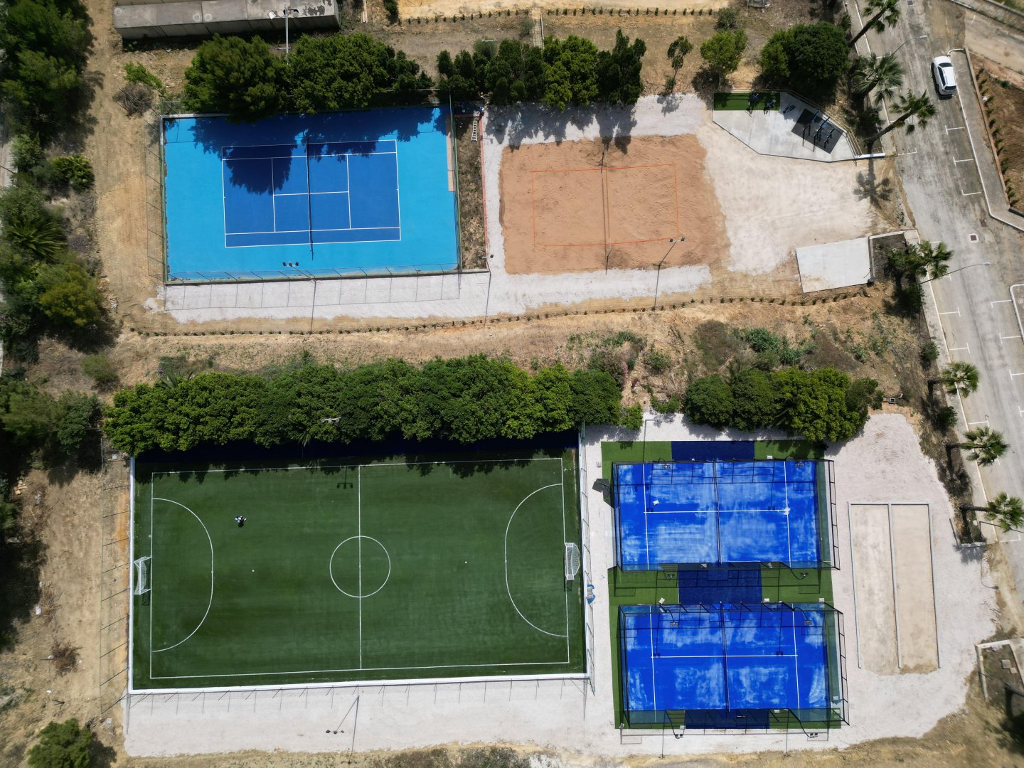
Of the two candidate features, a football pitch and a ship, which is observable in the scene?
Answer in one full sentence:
There is a football pitch in the scene.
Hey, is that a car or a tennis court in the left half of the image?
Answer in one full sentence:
The feature located in the left half of the image is a tennis court.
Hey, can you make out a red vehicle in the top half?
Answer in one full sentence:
No, looking in the top half, there is no red vehicle.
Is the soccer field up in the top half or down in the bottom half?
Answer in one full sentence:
The soccer field sits in the bottom half of the picture.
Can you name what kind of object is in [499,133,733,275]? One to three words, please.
sports court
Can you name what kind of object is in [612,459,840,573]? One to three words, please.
sports court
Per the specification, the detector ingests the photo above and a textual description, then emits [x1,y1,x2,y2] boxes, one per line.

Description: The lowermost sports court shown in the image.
[619,602,849,728]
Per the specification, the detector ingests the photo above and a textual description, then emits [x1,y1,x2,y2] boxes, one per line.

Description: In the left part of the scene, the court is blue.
[161,105,460,283]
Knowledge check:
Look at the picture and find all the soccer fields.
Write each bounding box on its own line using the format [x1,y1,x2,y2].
[134,427,585,688]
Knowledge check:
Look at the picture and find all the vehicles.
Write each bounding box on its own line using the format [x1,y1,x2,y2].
[931,56,962,98]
